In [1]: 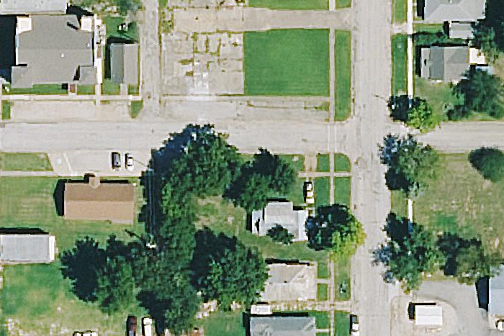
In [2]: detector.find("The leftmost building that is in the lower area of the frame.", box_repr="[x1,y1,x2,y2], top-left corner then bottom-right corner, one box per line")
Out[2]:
[0,234,55,262]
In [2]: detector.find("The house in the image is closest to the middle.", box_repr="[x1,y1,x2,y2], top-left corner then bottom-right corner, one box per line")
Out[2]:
[253,201,308,239]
